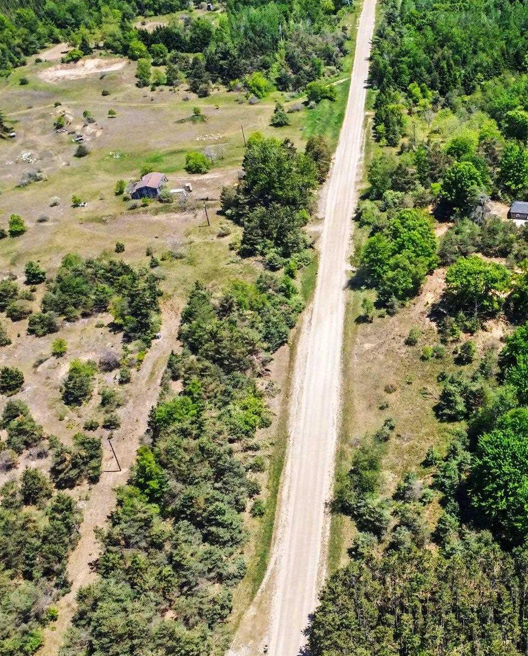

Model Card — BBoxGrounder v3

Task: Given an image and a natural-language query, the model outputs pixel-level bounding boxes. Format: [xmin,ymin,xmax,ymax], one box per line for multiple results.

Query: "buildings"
[126,174,167,203]
[510,202,528,221]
